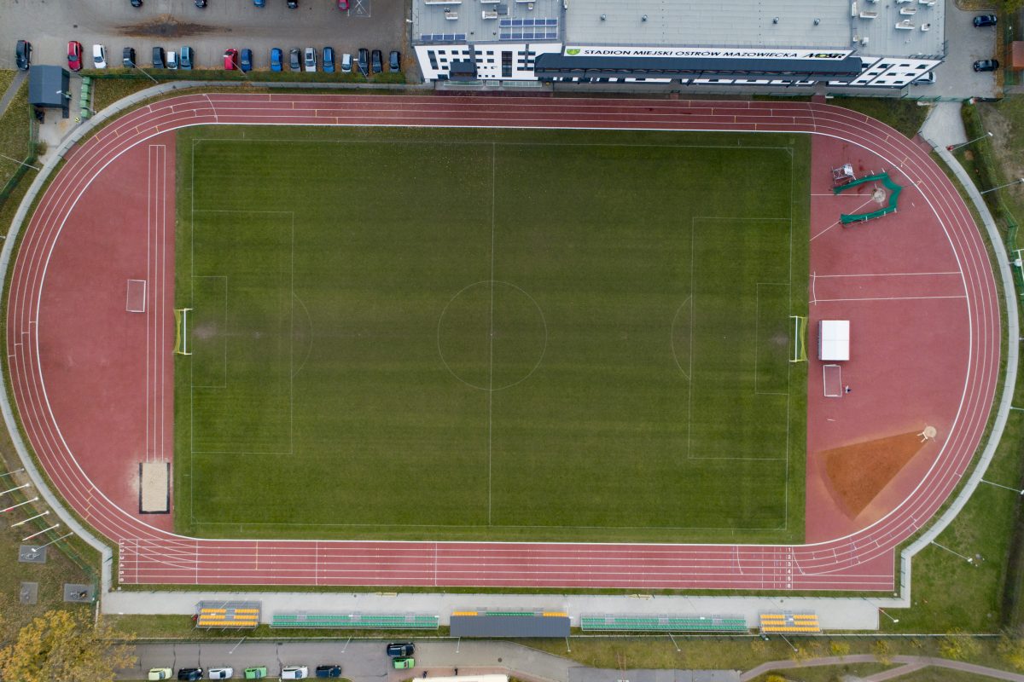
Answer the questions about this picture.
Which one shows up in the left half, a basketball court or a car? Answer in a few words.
car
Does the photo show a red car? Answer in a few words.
Yes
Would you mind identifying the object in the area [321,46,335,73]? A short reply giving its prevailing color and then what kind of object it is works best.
blue car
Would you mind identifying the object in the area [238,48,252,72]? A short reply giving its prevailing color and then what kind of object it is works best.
blue car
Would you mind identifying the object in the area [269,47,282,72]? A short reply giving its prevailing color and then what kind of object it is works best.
blue vehicle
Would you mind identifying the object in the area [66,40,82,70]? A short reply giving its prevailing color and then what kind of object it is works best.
red car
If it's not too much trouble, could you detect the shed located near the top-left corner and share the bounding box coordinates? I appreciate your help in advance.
[31,64,71,121]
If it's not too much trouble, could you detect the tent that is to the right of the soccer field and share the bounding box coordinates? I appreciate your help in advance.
[812,321,850,360]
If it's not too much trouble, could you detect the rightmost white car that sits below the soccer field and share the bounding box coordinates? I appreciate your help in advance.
[282,667,307,681]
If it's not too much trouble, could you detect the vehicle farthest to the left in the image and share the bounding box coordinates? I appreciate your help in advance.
[13,40,31,69]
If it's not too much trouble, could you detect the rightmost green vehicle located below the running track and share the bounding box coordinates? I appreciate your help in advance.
[393,658,415,672]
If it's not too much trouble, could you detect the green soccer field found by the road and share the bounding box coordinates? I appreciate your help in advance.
[172,123,811,545]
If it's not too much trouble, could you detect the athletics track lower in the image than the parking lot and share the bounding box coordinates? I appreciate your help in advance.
[7,93,1001,590]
